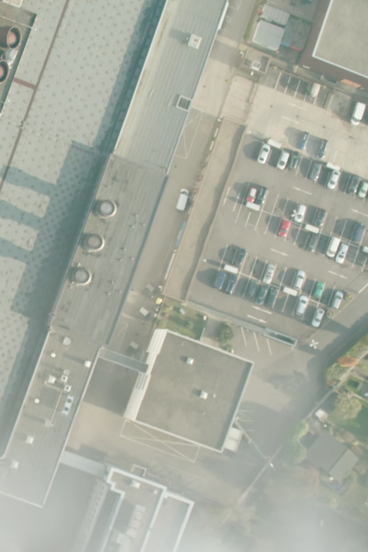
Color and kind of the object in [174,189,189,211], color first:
white vehicle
